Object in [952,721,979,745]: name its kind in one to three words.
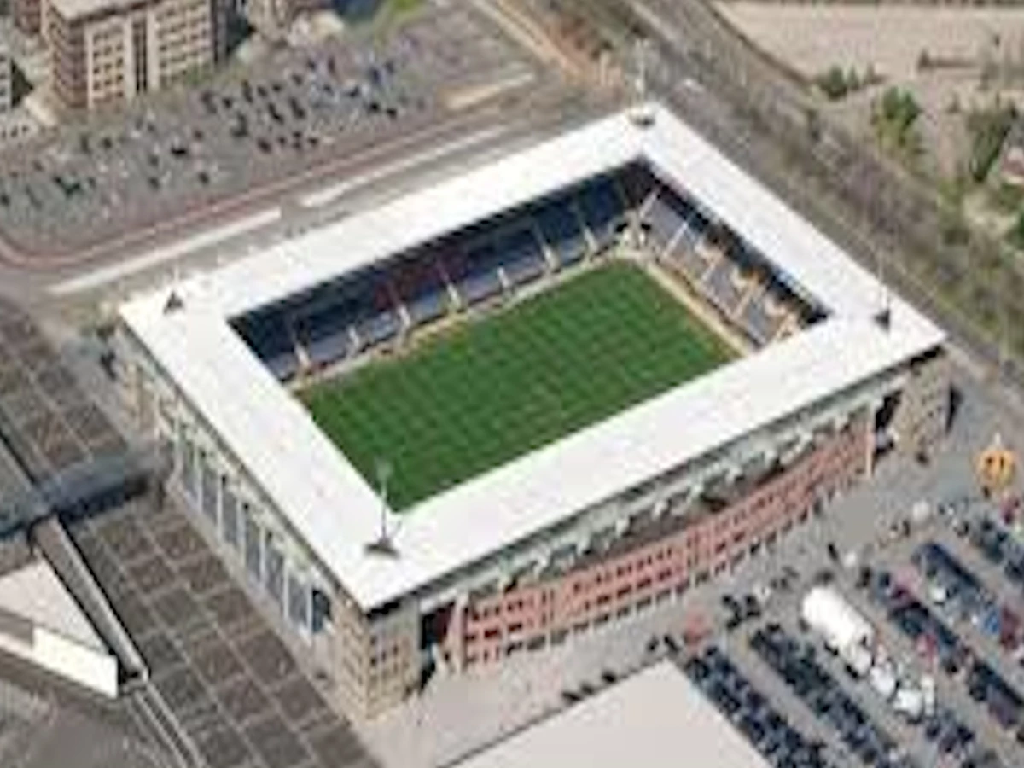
vehicle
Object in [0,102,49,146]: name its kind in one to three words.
building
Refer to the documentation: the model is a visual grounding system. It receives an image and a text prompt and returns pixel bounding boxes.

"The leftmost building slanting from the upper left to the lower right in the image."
[0,547,117,692]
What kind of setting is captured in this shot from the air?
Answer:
sports ground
